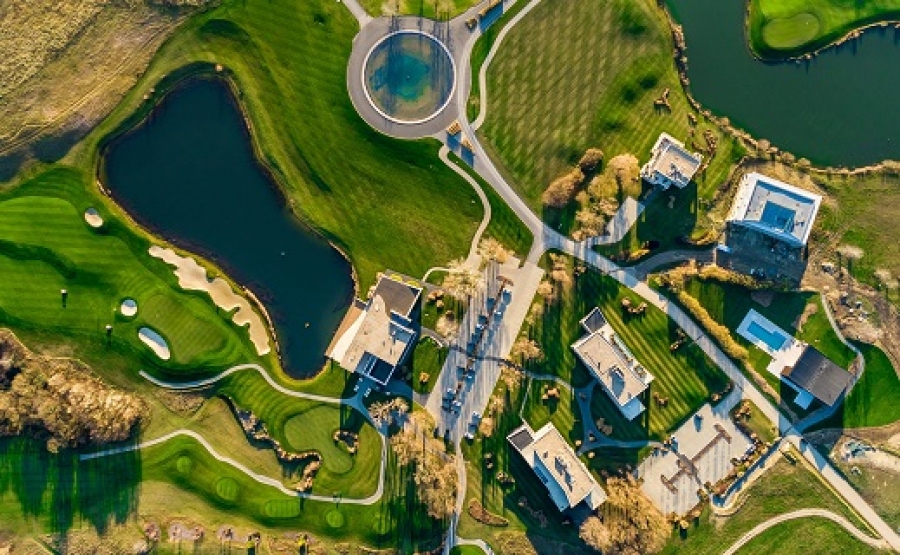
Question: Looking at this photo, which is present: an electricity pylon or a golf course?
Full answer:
Looking from above, you can make out a golf course.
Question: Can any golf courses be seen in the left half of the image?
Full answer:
Yes, in the left half of the image there is a golf course.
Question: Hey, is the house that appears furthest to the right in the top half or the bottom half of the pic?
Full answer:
Seen from above, the house that appears furthest to the right lies in the bottom half of the view.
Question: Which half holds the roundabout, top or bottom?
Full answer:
The roundabout sits in the top half of the picture.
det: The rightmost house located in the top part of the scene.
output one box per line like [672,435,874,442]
[730,172,821,250]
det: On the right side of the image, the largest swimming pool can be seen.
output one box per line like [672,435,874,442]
[737,310,810,380]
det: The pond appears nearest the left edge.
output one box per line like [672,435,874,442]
[107,77,356,378]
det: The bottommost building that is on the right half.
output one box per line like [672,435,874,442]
[506,418,606,512]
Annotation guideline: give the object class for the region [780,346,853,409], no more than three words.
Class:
house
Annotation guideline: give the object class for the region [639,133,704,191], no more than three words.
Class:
house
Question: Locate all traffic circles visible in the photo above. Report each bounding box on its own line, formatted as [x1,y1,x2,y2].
[346,0,519,140]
